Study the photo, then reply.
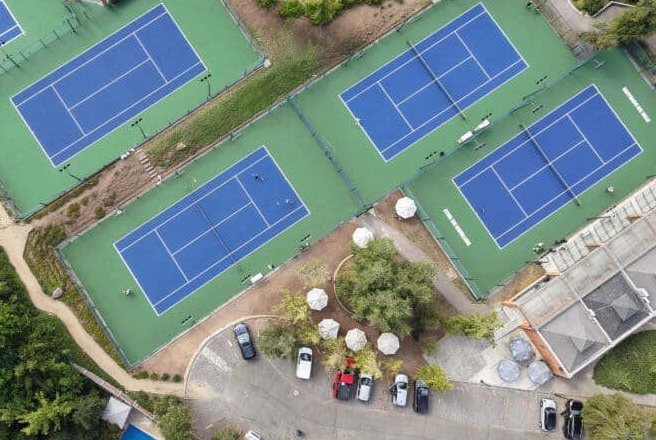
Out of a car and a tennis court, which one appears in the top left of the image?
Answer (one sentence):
The feature located in the top left of the image is a tennis court.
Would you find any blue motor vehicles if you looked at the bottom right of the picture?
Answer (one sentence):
No, I see no blue motor vehicle at the bottom right of the picture.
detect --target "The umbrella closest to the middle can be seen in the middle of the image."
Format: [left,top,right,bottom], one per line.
[351,226,372,247]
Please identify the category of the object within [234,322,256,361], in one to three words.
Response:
car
